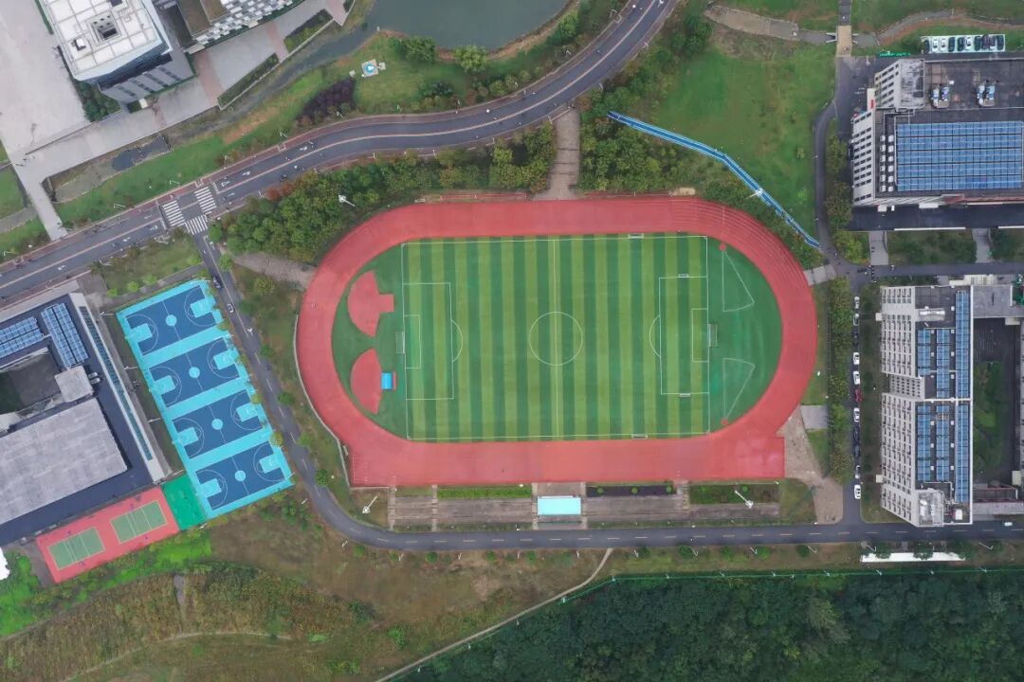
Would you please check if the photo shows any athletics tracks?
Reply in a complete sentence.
Yes, the picture does show an athletics track.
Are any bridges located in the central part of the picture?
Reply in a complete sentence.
No, looking in the central part of the picture, there is no bridge.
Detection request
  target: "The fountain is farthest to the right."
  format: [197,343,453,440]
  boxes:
[361,58,378,77]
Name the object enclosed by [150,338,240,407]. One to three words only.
basketball court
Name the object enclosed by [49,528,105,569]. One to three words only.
sports court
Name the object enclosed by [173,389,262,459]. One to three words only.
basketball court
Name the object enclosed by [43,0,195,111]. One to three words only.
building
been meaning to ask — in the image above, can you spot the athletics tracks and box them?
[297,195,818,487]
